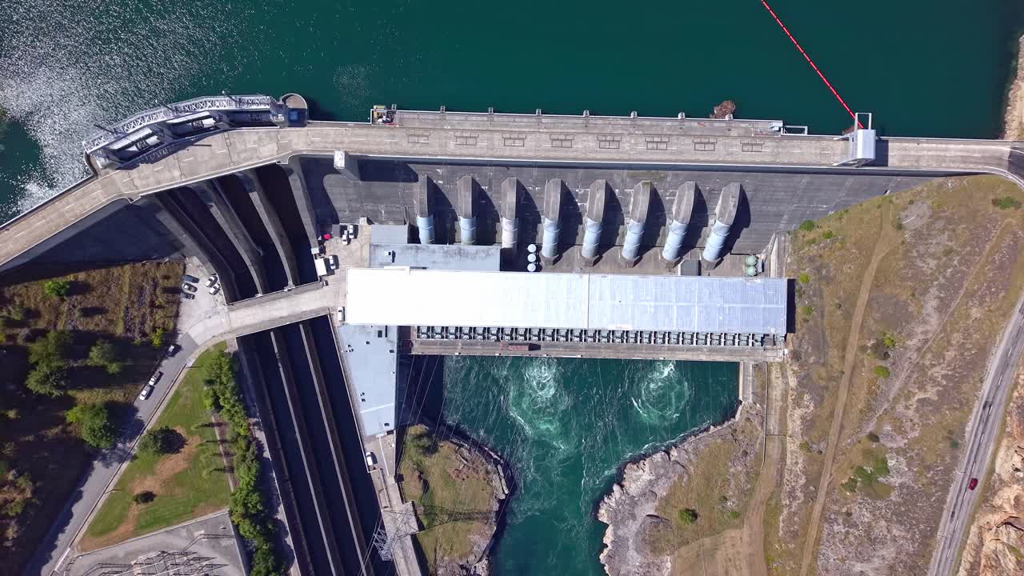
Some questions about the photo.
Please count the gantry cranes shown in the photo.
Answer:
1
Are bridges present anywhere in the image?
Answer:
Yes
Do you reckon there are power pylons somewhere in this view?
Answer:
Yes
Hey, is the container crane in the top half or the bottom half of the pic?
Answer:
top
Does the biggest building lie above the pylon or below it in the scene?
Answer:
above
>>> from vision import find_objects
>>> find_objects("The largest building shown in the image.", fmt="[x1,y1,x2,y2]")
[345,268,788,362]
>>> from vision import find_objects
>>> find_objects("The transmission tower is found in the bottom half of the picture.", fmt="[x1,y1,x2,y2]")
[374,506,415,557]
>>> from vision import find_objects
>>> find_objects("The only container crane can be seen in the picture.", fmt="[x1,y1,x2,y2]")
[832,112,880,165]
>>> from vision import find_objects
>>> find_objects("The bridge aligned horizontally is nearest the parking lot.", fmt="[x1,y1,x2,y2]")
[227,281,333,336]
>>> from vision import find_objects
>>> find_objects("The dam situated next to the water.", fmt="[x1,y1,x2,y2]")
[0,92,1024,287]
